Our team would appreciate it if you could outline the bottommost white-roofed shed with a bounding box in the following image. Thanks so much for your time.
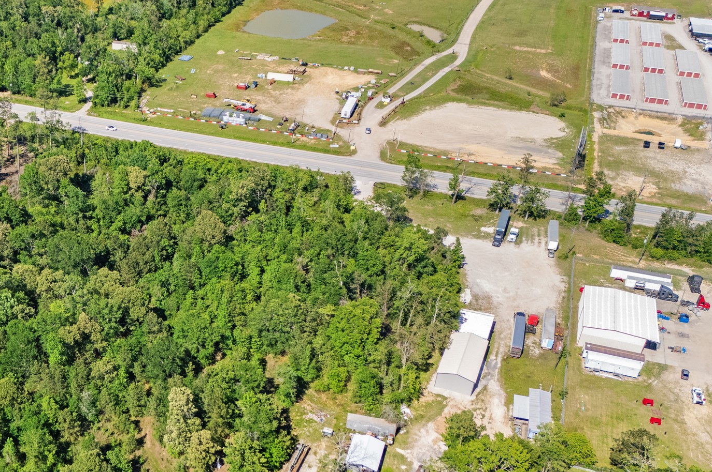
[346,434,389,472]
